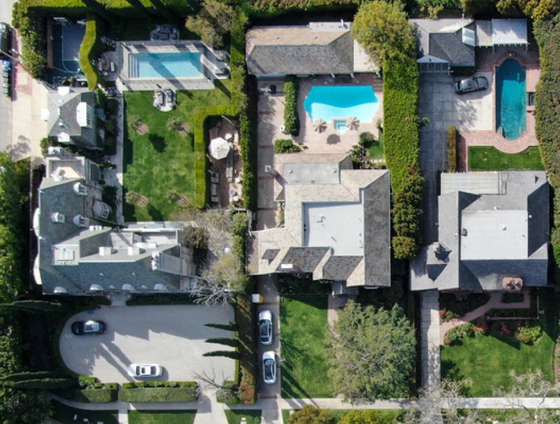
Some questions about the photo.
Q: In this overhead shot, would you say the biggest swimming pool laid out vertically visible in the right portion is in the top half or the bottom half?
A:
top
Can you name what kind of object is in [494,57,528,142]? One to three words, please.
swimming pool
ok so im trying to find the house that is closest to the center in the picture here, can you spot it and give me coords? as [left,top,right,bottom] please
[250,153,393,295]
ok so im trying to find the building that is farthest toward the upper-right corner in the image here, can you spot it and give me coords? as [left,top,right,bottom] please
[476,18,528,53]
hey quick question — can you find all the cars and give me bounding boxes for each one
[260,351,278,384]
[0,24,12,60]
[257,310,274,344]
[129,363,164,378]
[455,75,489,93]
[71,320,107,335]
